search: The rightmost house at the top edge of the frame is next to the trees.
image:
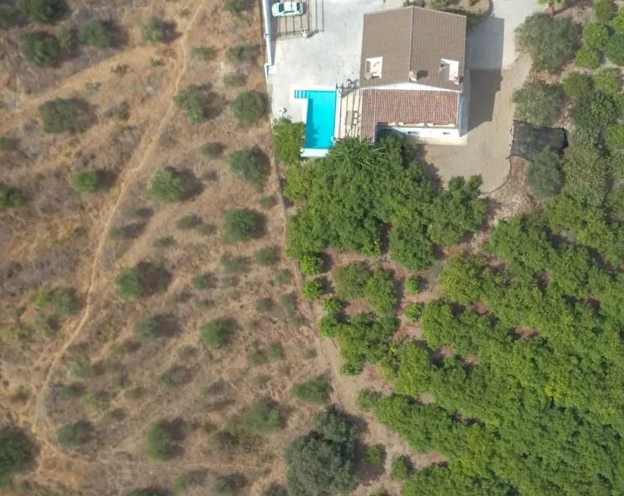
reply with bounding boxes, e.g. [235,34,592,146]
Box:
[360,6,472,148]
